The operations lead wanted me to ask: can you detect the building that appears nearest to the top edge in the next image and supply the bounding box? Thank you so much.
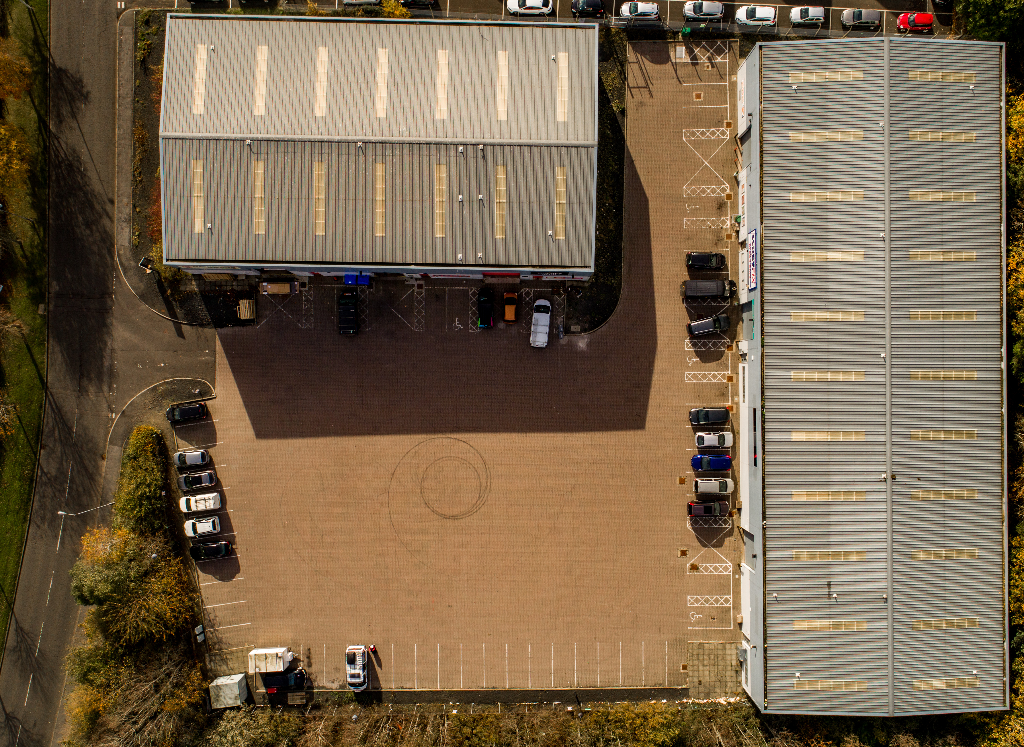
[160,15,598,292]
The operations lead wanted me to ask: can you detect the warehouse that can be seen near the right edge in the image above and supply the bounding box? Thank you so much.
[737,38,1012,716]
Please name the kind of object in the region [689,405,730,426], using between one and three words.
car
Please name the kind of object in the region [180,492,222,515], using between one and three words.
truck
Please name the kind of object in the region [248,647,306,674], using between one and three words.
trailer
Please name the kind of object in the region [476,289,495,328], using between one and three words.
vehicle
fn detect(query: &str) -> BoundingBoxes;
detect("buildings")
[160,15,598,292]
[737,38,1012,716]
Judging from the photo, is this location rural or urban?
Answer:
urban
